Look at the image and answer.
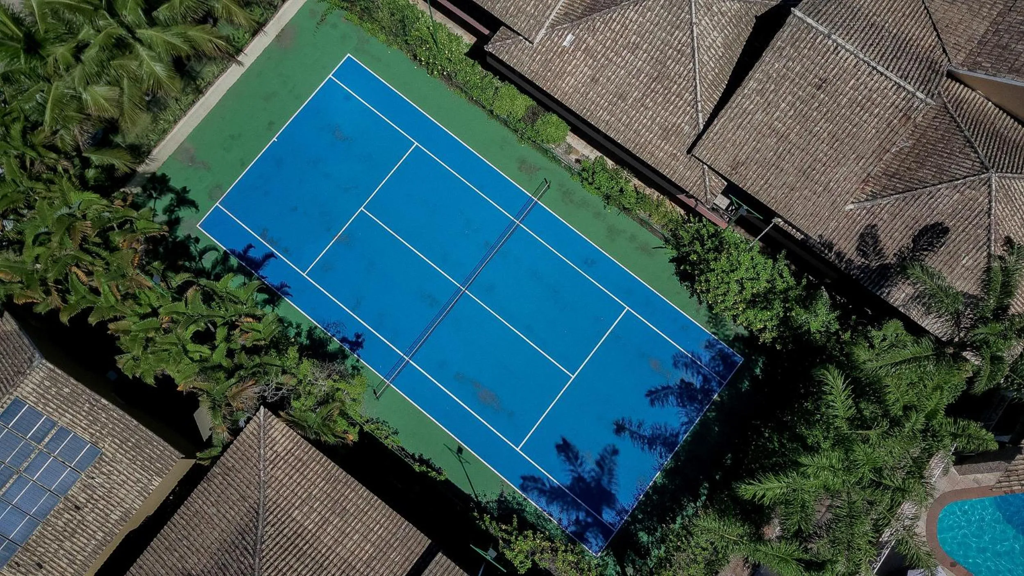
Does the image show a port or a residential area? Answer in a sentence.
This image shows a residential area.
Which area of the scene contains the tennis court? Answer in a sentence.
You can find the tennis court in the center area of the picture.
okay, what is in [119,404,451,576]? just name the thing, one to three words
house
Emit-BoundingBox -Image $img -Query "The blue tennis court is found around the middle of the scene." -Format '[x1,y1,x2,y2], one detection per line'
[136,0,829,576]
